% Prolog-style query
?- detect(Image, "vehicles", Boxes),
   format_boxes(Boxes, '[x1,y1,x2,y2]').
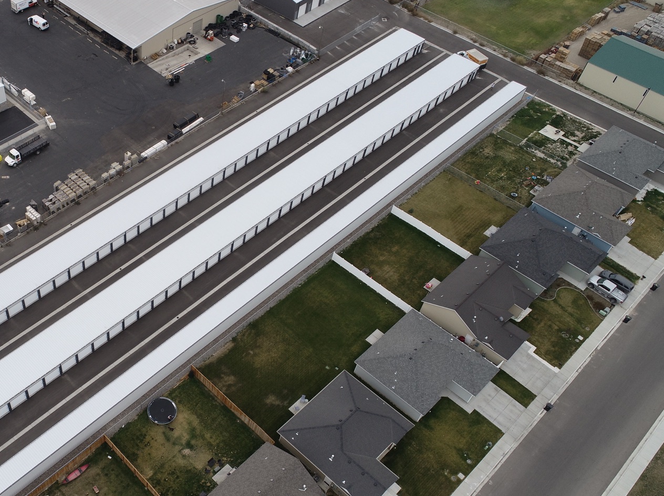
[583,278,631,308]
[203,29,214,42]
[597,271,636,296]
[29,15,49,30]
[10,0,40,12]
[454,45,491,71]
[4,136,54,169]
